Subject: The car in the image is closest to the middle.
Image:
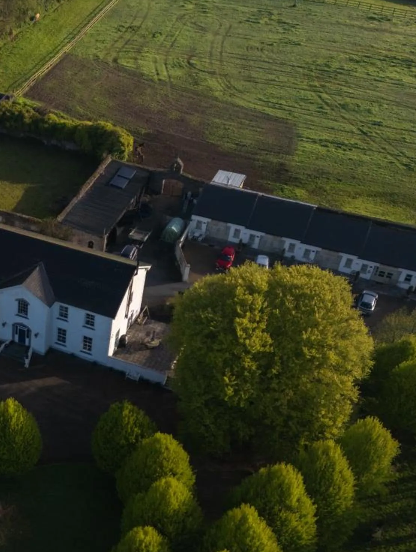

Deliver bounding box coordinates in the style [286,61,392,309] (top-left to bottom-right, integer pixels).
[216,243,237,268]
